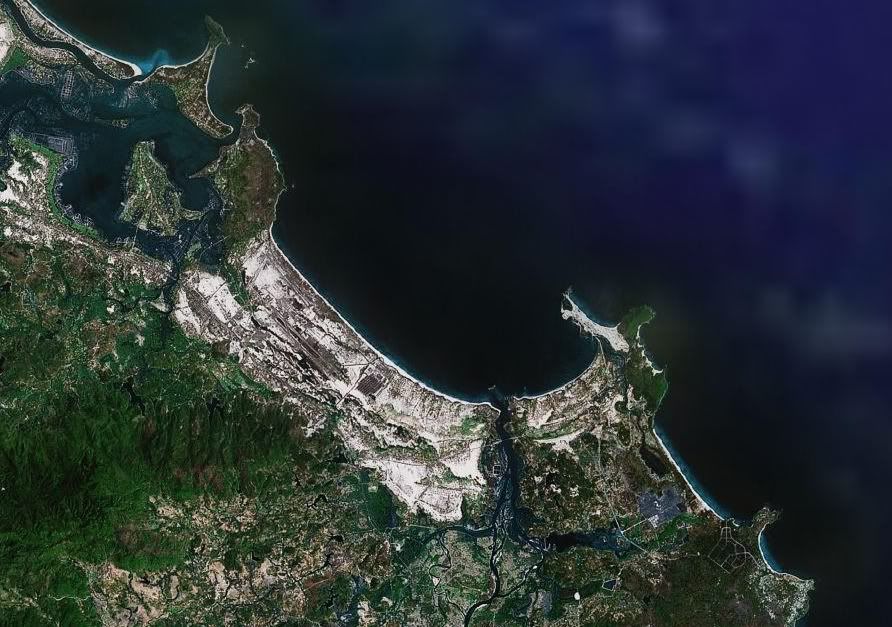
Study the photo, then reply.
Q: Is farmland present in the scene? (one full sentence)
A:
Yes, farmland shows up in the scene.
